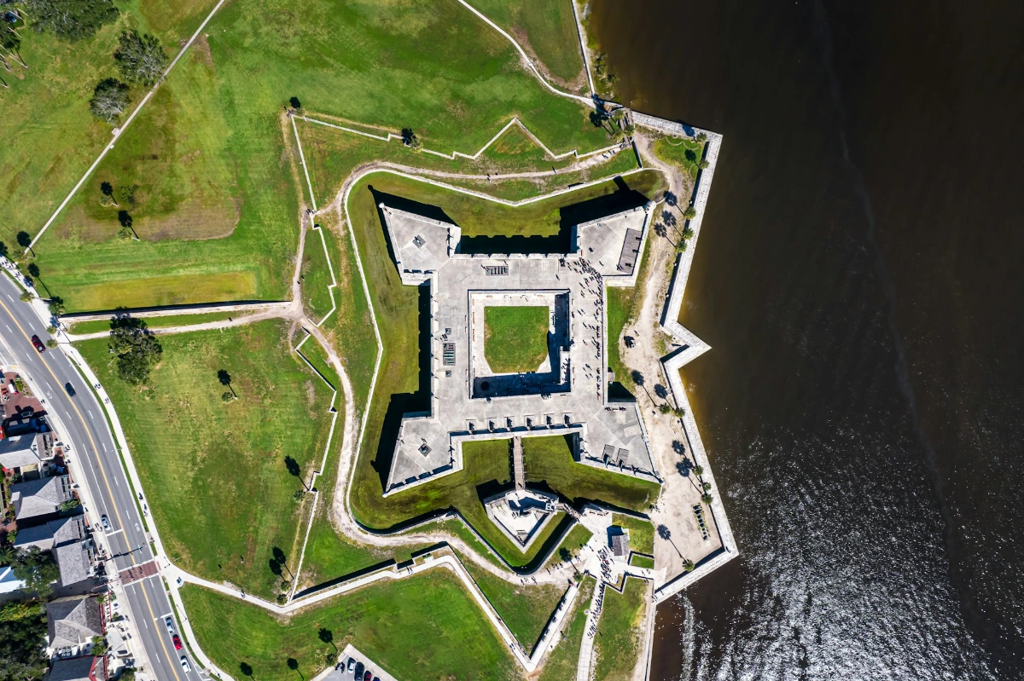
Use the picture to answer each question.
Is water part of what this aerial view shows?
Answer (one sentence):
Yes, water can be seen from above here.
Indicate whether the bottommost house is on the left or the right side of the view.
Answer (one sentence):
The bottommost house is on the left side of the image.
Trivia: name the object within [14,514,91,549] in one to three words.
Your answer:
house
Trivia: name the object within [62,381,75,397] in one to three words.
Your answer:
vehicle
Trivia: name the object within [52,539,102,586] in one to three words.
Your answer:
house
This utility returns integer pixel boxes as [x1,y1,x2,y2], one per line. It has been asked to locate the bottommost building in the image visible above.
[44,650,110,681]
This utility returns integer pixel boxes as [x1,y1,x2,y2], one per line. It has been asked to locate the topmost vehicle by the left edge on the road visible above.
[29,335,43,351]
